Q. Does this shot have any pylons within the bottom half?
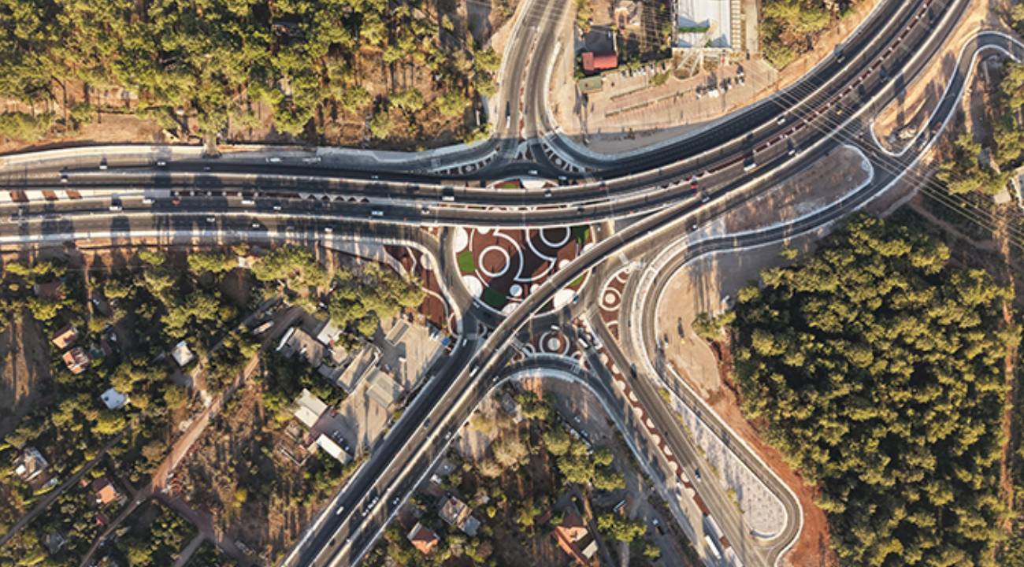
No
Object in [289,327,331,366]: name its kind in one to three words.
building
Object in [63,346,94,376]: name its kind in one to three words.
house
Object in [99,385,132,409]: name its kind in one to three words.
house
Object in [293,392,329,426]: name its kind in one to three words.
building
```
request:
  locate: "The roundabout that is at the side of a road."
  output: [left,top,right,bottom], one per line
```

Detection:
[434,158,612,335]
